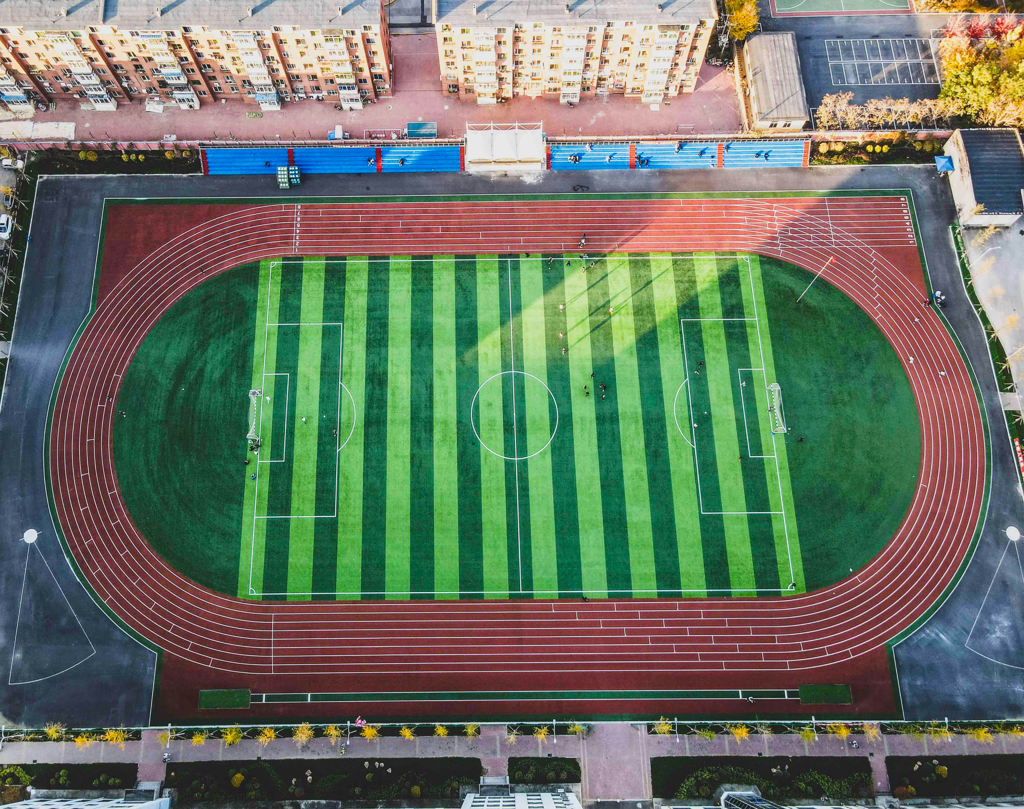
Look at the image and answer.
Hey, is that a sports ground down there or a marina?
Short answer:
sports ground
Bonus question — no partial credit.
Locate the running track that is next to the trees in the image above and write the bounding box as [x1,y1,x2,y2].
[49,189,989,728]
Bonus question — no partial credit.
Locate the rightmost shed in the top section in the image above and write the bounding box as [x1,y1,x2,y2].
[944,127,1024,225]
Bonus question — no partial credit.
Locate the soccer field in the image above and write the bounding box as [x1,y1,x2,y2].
[117,251,918,601]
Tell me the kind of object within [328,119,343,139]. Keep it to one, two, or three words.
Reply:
vehicle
